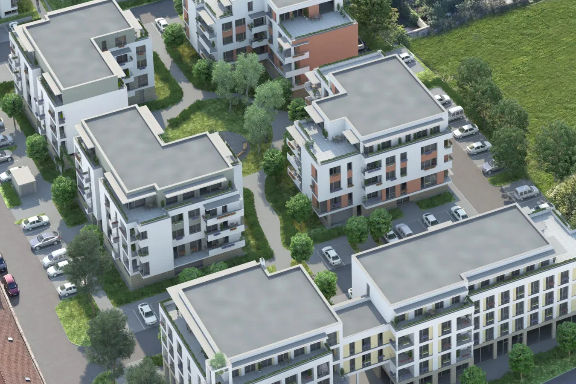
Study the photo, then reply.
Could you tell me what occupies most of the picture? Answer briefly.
buildings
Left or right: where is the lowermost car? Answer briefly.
left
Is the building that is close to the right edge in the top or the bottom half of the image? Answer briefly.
bottom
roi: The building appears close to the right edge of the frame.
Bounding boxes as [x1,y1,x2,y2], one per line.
[352,203,576,384]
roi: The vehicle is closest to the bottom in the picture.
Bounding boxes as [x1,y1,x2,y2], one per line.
[138,303,158,325]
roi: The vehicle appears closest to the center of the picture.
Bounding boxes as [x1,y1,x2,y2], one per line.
[320,246,341,267]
